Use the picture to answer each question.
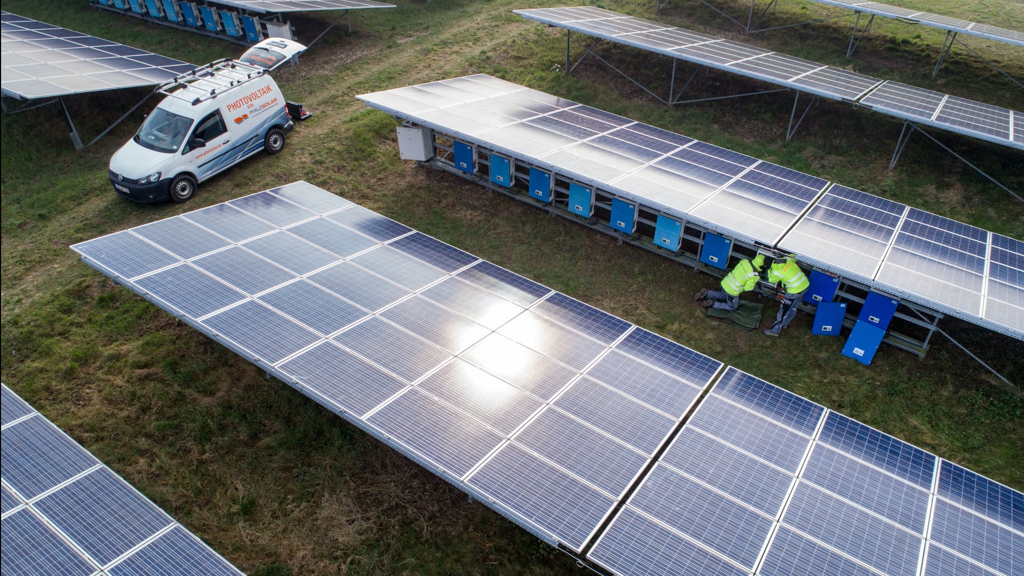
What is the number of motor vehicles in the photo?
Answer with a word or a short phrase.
1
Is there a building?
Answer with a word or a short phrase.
No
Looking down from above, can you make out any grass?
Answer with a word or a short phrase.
Yes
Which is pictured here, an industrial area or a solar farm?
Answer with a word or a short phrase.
solar farm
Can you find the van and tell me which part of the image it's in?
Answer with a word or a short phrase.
top left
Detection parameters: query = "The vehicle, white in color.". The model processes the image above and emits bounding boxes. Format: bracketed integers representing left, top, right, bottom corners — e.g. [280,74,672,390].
[108,38,308,208]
